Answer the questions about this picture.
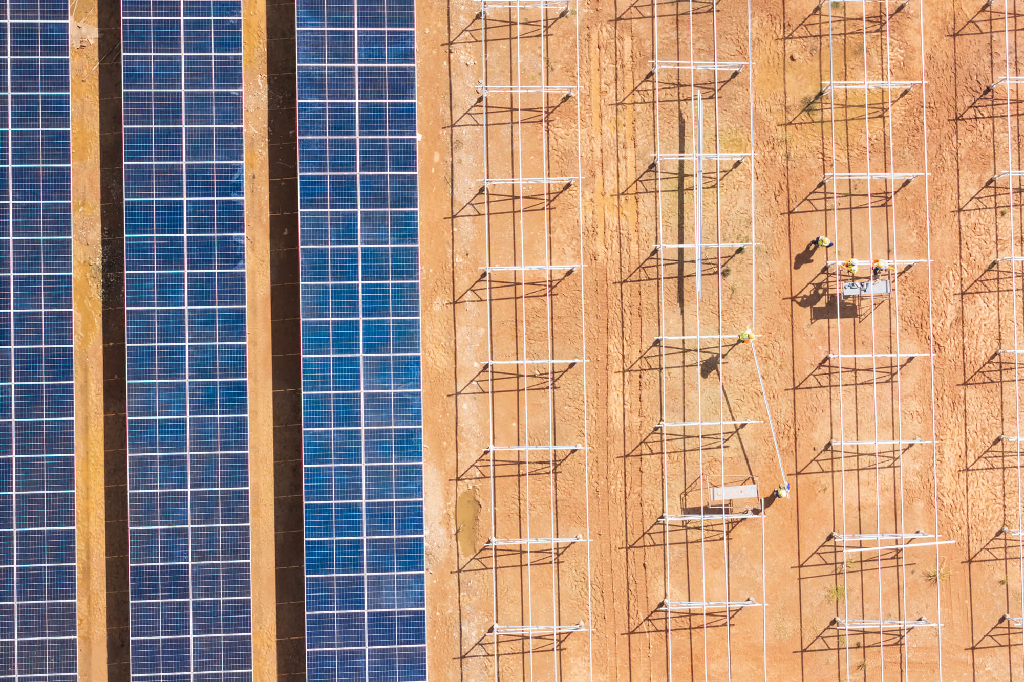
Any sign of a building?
No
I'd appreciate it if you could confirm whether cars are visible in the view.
No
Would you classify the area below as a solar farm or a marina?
solar farm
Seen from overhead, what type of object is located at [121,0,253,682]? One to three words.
solar array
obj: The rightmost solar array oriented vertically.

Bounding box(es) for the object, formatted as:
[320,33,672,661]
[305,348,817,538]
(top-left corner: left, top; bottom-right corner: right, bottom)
[295,0,427,682]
